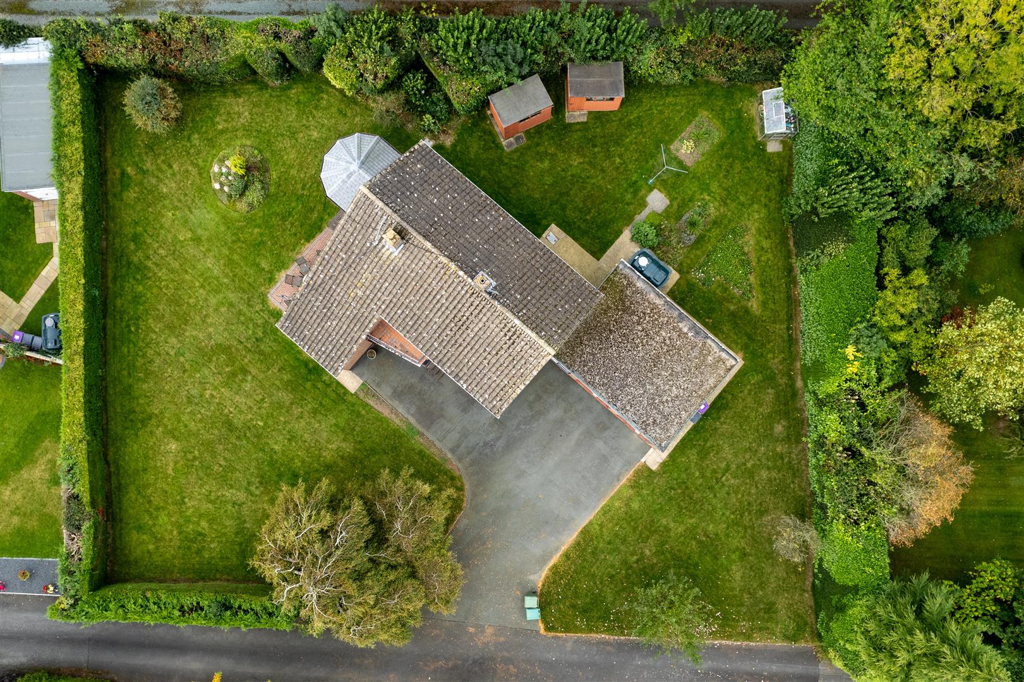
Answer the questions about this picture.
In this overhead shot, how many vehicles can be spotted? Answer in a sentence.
The picture shows no vehicles.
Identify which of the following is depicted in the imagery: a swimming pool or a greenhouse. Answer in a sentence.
It is a greenhouse that can be seen here.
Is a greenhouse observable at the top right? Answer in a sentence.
Yes, the scene does show a greenhouse at the top right.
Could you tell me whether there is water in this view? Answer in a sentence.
No, the scene doesn't show any water.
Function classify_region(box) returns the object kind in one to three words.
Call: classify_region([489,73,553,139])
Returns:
shed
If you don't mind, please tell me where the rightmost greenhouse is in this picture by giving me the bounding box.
[755,81,810,138]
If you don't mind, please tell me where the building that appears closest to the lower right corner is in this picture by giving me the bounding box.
[550,259,742,451]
